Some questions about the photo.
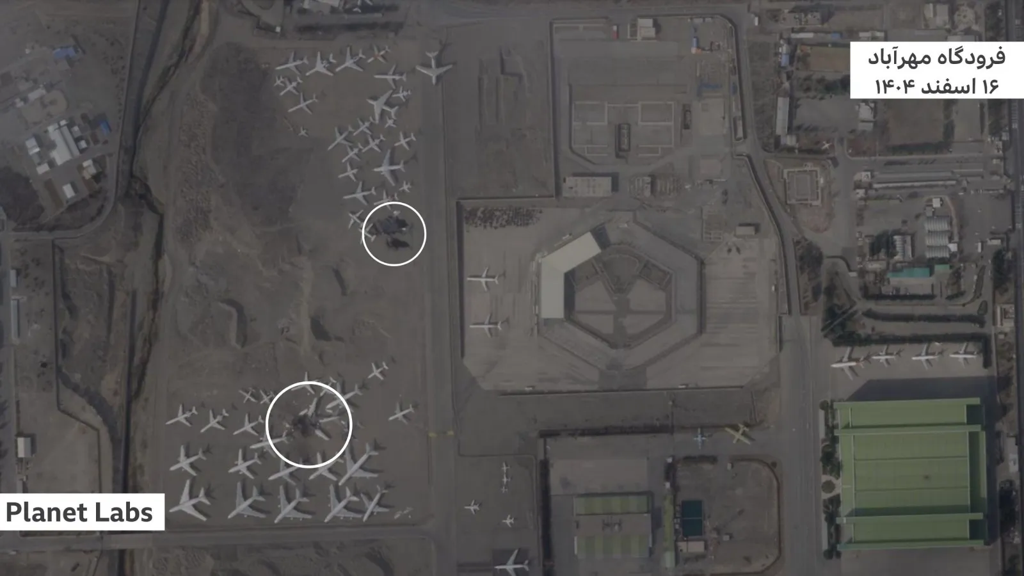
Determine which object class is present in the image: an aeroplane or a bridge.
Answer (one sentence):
Of the two, only an aeroplane appears.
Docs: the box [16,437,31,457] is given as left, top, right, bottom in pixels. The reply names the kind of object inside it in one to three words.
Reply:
house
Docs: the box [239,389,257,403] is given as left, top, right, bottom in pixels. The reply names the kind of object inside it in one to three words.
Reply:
airplane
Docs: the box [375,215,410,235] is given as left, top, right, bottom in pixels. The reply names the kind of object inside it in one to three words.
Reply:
airplane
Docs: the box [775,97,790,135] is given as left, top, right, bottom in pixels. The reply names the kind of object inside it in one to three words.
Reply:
shed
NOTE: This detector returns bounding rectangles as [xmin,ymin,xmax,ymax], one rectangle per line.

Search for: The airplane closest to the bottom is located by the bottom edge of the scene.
[494,549,529,576]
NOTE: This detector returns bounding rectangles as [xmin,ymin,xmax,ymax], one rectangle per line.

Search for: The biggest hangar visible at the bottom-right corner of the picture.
[835,398,989,550]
